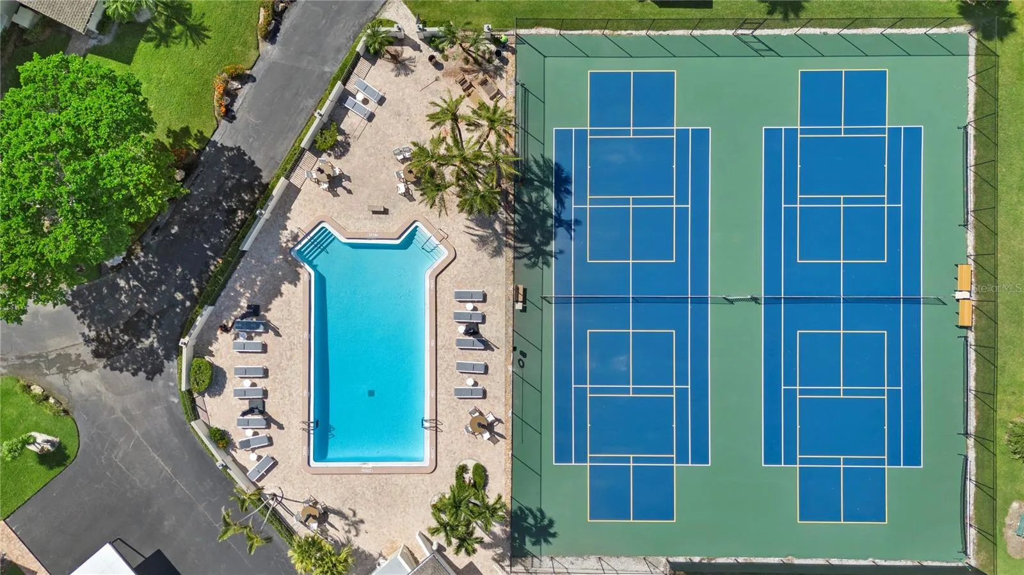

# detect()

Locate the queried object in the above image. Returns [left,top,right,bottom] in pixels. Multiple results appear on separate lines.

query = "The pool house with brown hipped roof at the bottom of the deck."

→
[405,544,466,575]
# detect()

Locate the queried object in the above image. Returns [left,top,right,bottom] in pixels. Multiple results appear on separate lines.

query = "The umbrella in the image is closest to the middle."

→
[462,322,478,336]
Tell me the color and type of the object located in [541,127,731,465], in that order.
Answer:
blue tennis court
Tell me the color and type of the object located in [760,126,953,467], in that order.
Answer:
blue tennis court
